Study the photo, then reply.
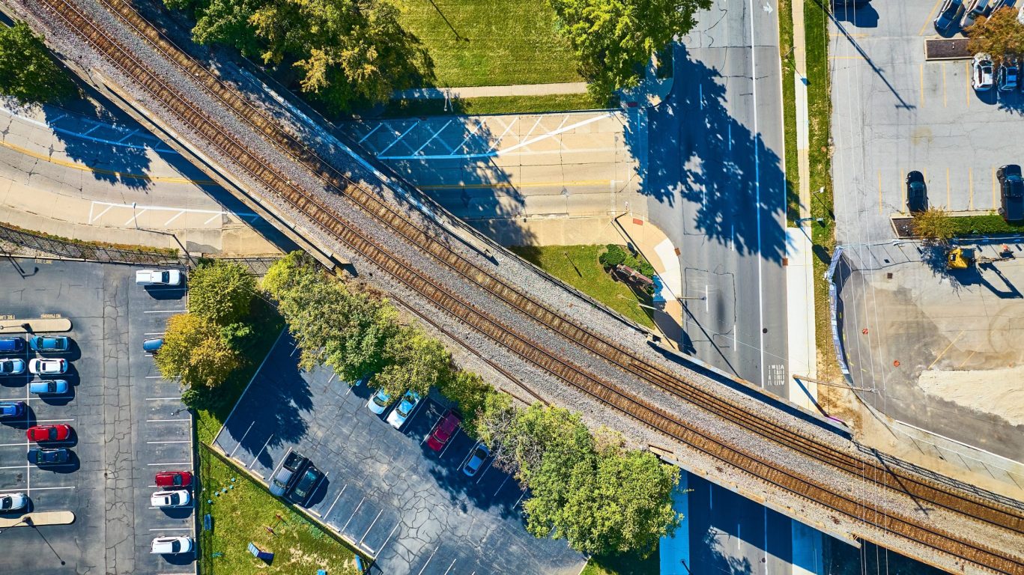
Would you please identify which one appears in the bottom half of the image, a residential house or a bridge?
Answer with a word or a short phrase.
bridge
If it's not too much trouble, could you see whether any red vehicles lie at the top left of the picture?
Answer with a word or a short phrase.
No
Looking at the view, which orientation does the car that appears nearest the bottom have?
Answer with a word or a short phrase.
from side to side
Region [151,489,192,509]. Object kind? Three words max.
car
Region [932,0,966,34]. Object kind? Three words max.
truck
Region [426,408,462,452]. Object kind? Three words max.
truck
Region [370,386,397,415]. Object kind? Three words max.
car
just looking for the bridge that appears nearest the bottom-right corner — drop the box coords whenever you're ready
[645,333,862,547]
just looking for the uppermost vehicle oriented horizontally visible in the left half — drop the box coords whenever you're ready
[135,268,184,287]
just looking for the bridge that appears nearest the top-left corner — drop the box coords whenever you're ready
[94,47,517,271]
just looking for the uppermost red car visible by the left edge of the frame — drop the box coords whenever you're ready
[29,424,71,442]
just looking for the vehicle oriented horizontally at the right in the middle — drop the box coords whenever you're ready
[947,248,1012,269]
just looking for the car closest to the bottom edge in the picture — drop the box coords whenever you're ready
[151,535,193,556]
